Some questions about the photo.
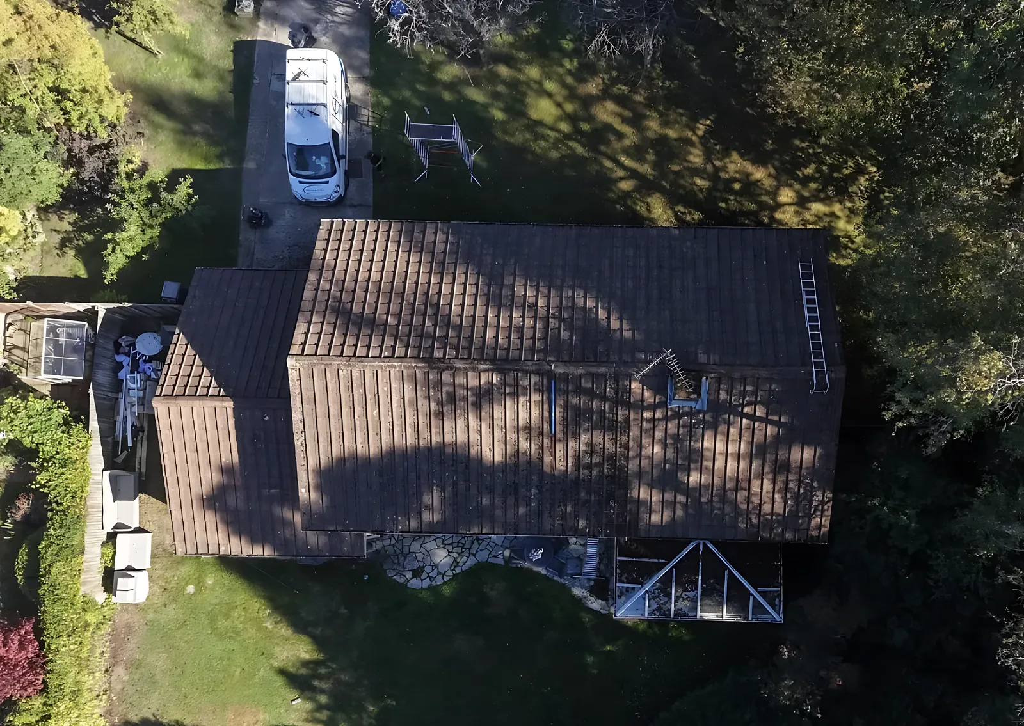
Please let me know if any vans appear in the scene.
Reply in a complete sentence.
Yes, looking at the shot, I can spot a van.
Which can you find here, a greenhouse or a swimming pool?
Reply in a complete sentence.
There is a greenhouse in the scene.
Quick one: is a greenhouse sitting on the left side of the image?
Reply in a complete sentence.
Yes, a greenhouse is visible on the left side of the image.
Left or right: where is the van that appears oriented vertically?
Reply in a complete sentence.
The van that appears oriented vertically sits on the left side.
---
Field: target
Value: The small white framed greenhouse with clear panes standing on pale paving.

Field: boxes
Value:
[45,318,98,385]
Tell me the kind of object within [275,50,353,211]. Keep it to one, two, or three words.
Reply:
van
